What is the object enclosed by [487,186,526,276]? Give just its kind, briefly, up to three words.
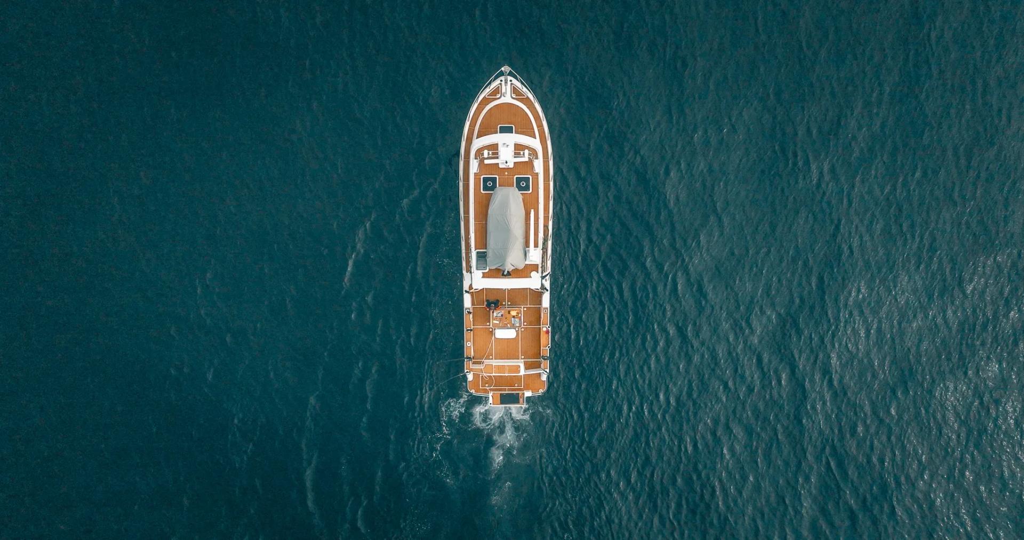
boat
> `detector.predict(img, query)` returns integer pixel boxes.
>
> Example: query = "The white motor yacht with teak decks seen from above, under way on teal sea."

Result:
[459,66,554,406]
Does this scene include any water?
Yes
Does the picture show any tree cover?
No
